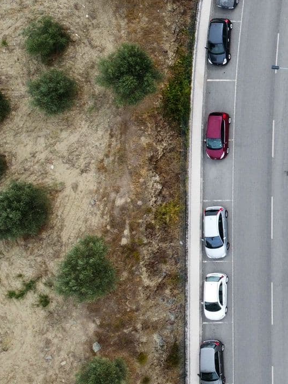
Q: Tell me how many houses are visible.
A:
none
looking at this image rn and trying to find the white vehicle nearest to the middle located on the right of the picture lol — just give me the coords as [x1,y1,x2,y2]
[201,207,231,260]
